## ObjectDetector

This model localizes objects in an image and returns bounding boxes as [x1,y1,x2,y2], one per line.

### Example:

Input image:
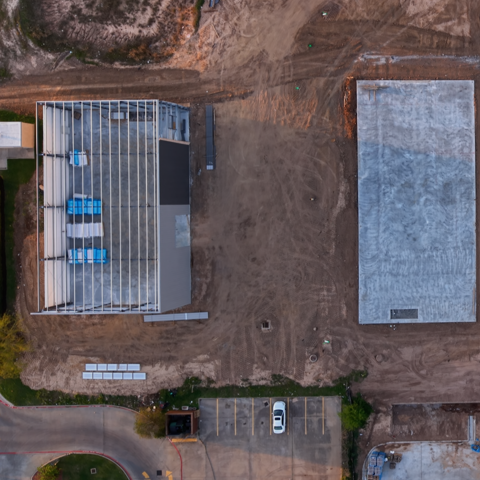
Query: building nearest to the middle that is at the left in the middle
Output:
[29,98,192,315]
